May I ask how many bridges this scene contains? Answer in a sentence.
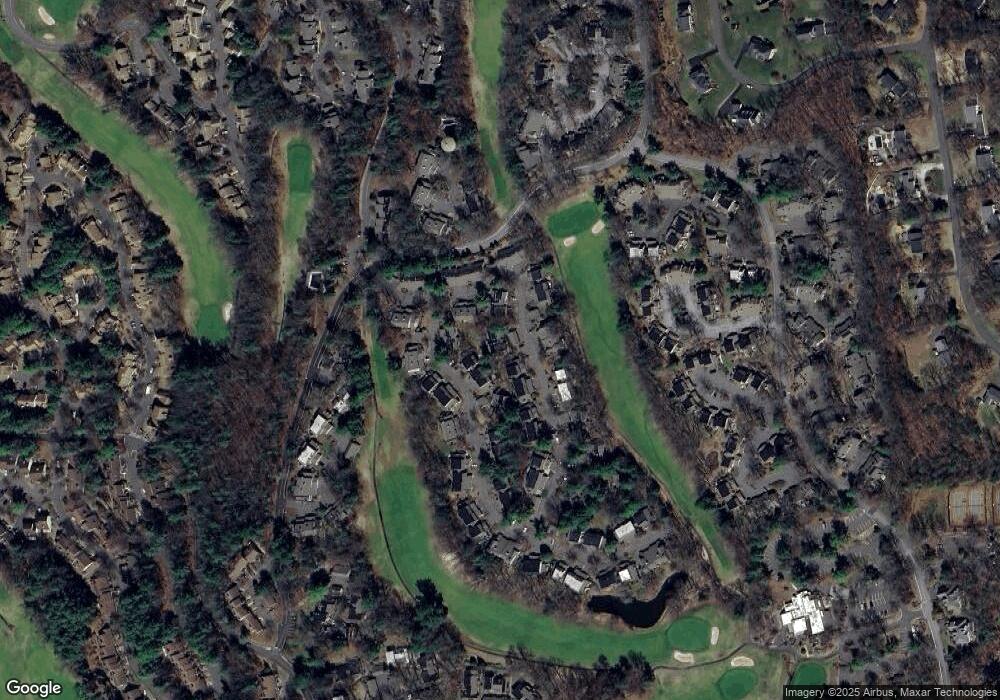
The picture shows no bridges.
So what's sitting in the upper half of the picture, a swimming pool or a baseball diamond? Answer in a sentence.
Visible in the upper half of the picture is a swimming pool.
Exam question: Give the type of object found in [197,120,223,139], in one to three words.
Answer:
house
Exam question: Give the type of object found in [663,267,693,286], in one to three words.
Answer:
building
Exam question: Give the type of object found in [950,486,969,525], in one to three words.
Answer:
tennis court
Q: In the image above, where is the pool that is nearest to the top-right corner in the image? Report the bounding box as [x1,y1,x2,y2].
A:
[868,130,893,150]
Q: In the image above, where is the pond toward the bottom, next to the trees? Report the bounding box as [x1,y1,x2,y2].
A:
[588,571,690,627]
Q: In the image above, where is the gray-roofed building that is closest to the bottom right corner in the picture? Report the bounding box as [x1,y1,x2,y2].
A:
[947,623,973,642]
